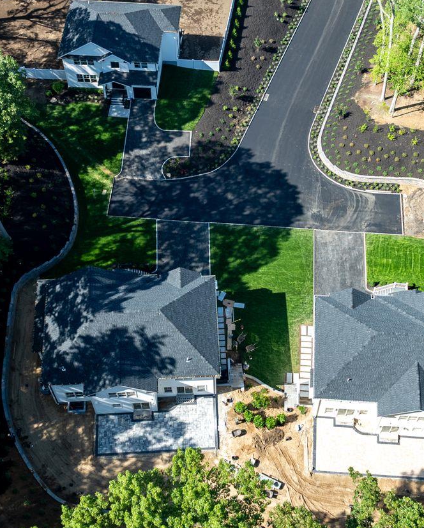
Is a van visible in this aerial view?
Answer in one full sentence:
No, there's no van here.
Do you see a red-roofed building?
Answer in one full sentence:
No, this view has no red-roofed building in it.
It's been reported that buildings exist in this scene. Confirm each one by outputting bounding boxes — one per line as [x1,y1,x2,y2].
[55,0,181,107]
[311,284,424,451]
[34,263,224,427]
